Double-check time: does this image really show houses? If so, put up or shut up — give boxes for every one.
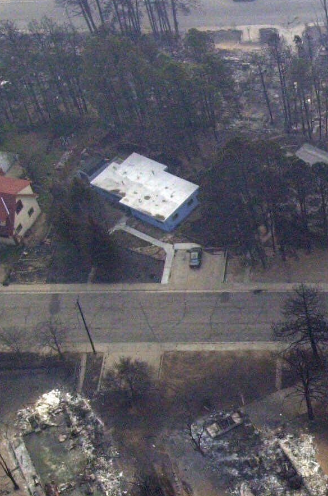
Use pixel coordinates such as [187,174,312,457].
[293,137,328,168]
[90,153,197,231]
[0,162,47,244]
